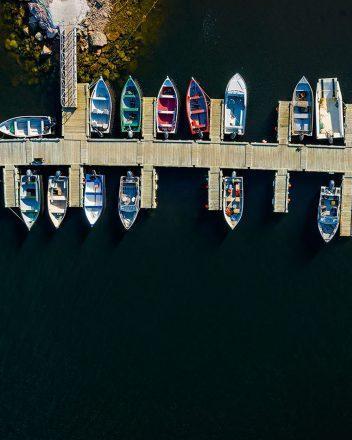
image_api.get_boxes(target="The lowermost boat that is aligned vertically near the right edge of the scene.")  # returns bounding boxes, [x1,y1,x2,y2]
[318,179,341,242]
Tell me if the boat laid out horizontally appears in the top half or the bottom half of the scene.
top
